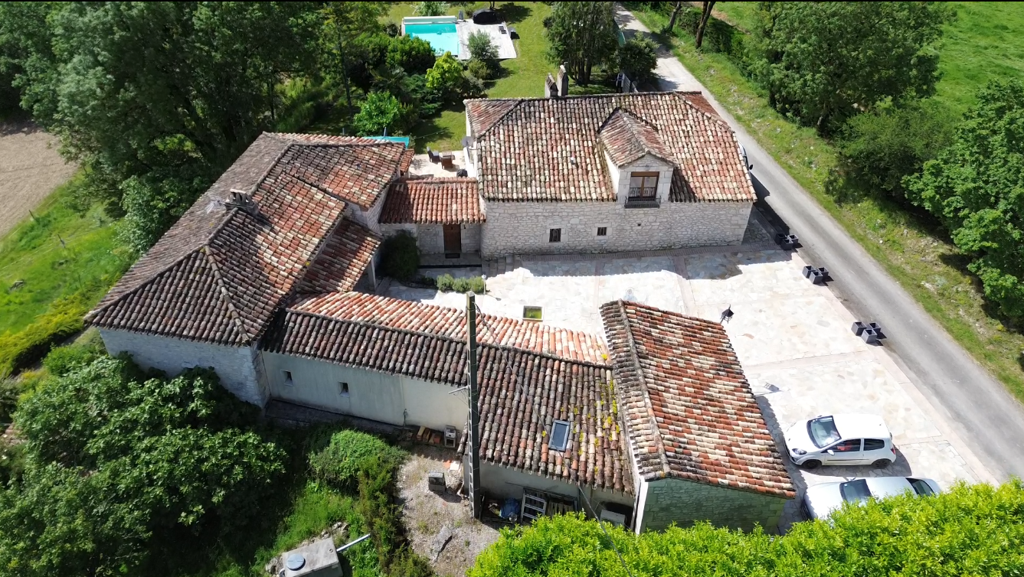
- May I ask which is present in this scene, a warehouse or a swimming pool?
swimming pool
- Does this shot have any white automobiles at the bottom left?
No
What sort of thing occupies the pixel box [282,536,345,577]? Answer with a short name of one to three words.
storage tank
